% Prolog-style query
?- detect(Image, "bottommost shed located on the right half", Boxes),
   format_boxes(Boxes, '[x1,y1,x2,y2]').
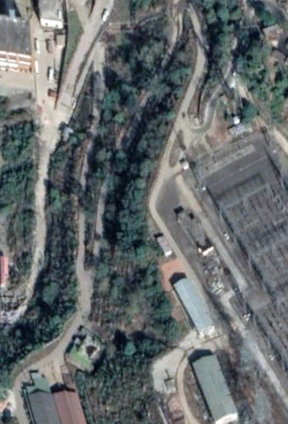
[188,356,238,424]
